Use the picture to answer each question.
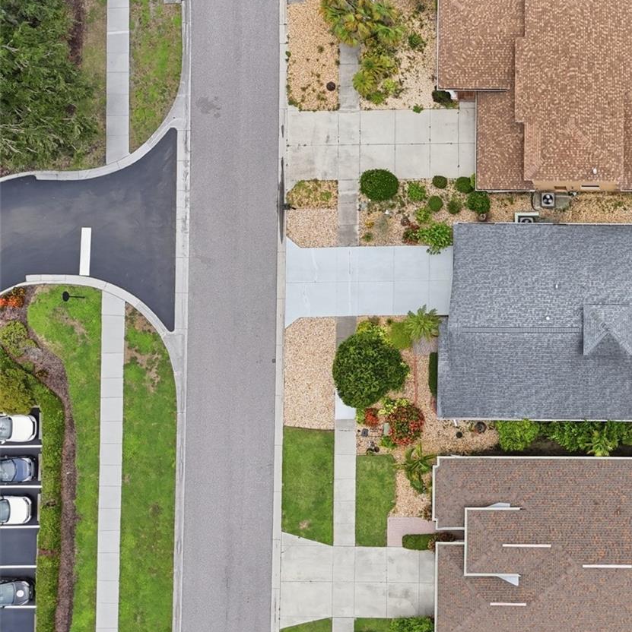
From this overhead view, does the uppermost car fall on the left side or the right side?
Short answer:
left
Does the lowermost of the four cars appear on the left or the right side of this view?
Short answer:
left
